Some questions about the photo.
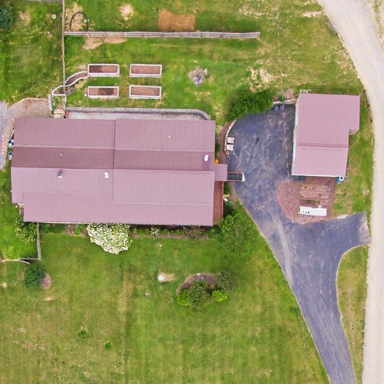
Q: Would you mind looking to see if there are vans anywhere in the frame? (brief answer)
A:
No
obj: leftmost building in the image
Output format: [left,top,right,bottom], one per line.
[12,118,228,226]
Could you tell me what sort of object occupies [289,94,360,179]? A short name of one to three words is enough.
building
